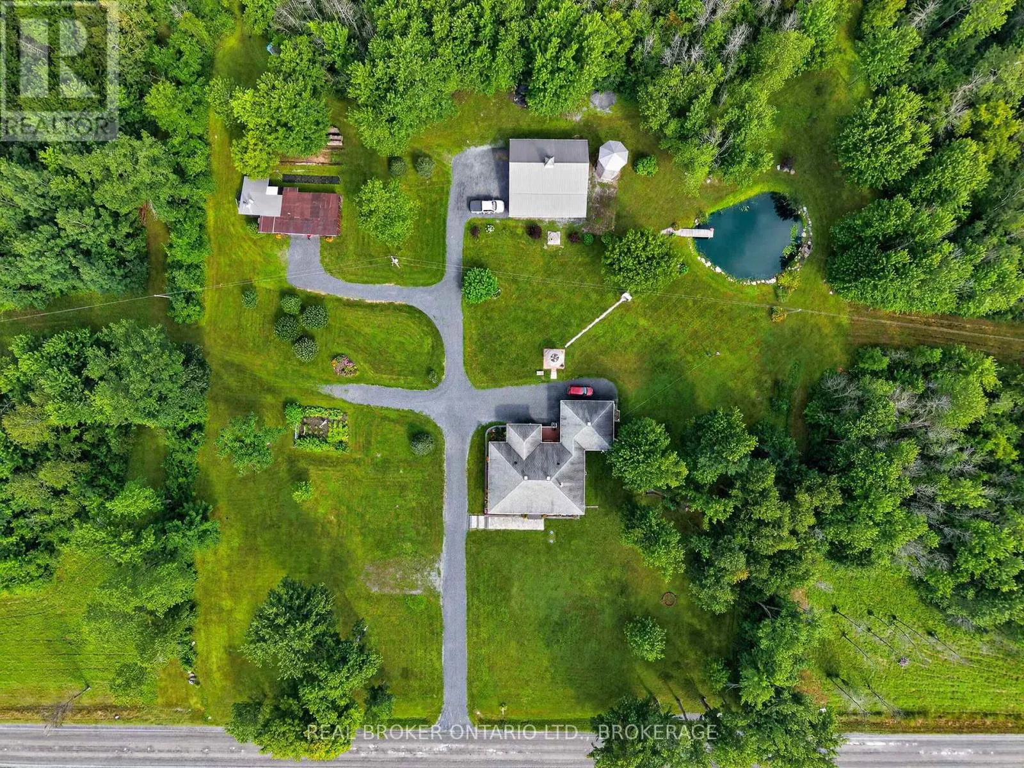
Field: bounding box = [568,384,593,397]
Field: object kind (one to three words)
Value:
vehicle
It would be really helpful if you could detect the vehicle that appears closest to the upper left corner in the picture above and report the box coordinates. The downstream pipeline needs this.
[470,199,505,214]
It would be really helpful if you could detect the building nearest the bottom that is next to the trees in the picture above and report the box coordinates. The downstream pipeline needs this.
[487,400,615,515]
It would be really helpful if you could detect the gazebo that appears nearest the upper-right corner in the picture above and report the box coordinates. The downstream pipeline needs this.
[596,141,629,180]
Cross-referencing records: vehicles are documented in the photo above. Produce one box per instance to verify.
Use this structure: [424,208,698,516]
[470,199,505,214]
[568,384,593,397]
